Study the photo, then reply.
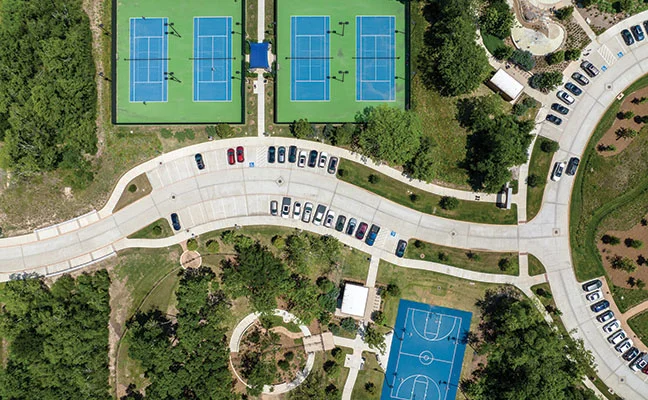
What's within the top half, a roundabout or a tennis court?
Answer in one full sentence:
There is a tennis court within the top half.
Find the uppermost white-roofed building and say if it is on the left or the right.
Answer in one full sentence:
You can find the uppermost white-roofed building on the right side of the picture.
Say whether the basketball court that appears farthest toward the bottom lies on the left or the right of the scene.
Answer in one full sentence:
The basketball court that appears farthest toward the bottom appears in the right half of the scene.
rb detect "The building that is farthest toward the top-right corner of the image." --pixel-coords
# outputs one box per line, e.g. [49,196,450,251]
[489,68,525,99]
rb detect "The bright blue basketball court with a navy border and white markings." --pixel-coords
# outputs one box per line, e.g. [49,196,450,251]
[382,297,473,400]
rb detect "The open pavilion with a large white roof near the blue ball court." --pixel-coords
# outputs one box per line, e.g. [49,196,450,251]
[342,282,368,316]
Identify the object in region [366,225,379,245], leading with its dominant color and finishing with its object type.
blue vehicle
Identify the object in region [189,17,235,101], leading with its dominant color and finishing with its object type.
blue tennis court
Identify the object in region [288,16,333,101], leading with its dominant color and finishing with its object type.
blue tennis court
